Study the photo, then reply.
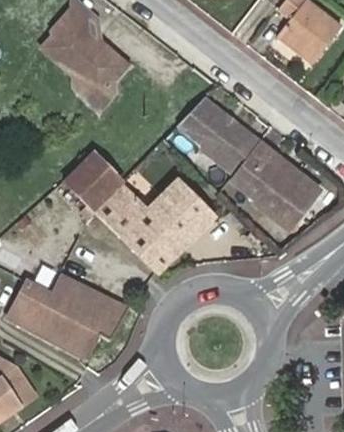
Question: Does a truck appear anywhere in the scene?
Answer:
Yes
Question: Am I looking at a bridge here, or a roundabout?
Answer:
roundabout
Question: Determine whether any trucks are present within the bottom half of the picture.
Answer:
Yes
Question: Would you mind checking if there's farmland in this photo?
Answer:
No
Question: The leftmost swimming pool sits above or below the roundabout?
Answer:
above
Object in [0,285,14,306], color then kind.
white vehicle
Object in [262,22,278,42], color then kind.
white car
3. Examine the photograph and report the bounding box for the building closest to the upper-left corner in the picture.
[40,0,134,117]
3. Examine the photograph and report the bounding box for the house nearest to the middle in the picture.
[95,177,219,274]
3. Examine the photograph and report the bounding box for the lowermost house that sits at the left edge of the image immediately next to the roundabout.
[4,272,128,363]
